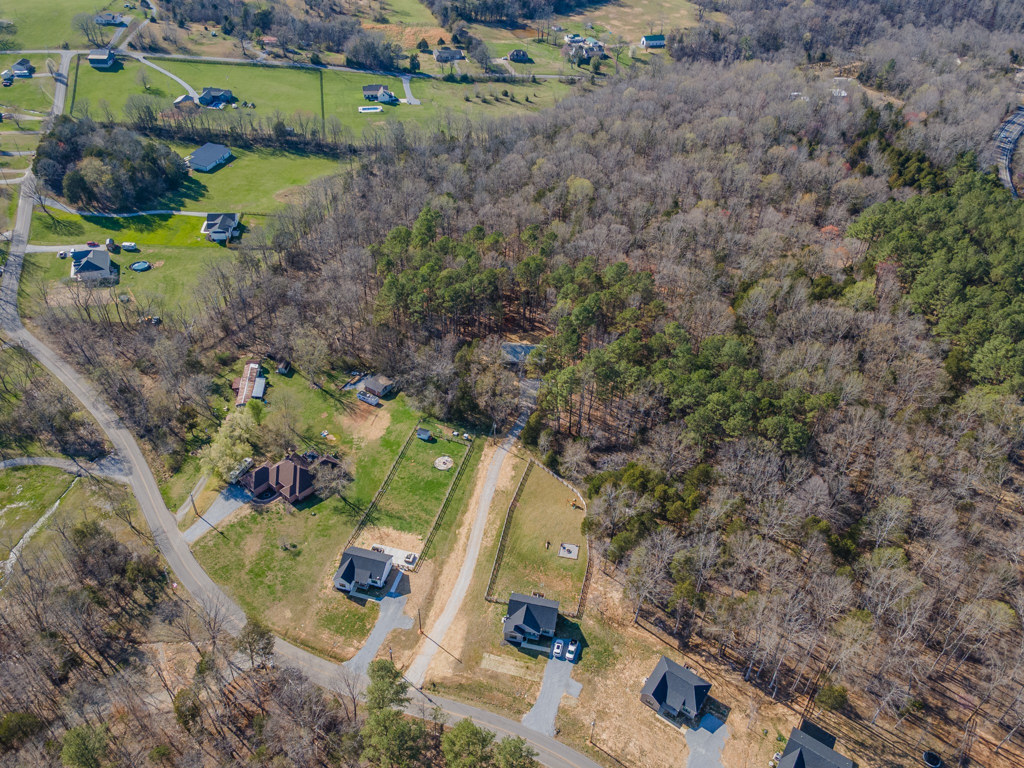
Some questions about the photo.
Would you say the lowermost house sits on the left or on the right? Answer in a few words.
right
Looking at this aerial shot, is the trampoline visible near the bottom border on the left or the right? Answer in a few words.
right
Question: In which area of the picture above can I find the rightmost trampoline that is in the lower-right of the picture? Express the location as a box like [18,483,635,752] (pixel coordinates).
[921,746,946,768]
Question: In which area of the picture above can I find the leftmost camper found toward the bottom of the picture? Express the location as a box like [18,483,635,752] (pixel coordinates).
[218,457,259,488]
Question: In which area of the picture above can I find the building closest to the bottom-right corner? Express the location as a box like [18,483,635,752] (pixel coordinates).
[773,719,853,768]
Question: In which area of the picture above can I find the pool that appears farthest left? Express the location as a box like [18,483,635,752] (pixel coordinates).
[129,261,150,273]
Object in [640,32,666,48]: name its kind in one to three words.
barn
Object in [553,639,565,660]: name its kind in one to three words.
vehicle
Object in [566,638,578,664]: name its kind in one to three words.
vehicle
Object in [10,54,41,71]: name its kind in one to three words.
house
